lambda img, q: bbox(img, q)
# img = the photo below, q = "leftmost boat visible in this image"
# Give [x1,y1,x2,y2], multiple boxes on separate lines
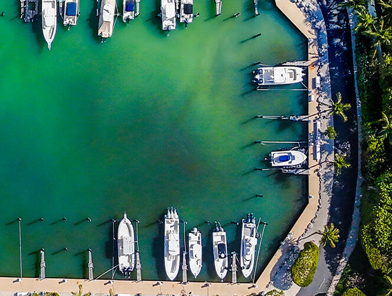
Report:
[41,0,57,49]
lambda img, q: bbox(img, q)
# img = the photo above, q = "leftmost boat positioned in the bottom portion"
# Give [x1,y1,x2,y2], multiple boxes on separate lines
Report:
[117,211,134,279]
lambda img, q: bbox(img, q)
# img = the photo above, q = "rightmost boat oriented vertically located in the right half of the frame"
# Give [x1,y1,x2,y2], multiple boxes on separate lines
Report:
[240,210,256,277]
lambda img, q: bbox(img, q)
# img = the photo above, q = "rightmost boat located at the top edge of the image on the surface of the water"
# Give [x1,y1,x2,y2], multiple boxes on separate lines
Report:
[179,0,194,34]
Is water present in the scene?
Yes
